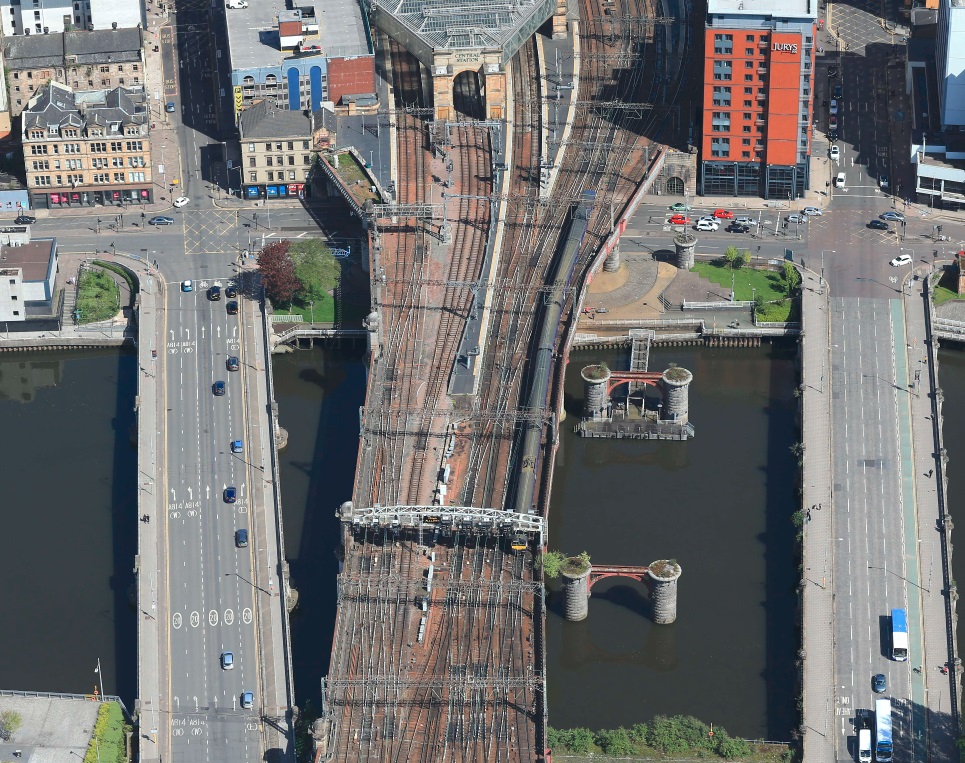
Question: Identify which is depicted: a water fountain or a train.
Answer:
train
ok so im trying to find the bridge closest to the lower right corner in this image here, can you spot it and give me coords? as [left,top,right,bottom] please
[789,300,965,763]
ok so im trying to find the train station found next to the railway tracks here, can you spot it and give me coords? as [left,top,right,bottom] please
[352,0,571,119]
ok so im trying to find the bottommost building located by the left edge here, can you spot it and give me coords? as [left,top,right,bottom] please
[0,224,59,322]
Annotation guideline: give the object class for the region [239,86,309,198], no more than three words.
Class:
building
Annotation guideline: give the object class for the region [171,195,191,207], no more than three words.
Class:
vehicle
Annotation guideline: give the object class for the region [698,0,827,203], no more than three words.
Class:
building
